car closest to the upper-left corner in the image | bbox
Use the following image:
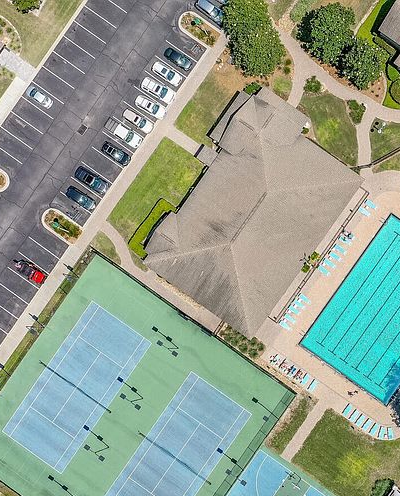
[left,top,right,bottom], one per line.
[25,84,57,111]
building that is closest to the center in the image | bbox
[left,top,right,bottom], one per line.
[143,86,361,337]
